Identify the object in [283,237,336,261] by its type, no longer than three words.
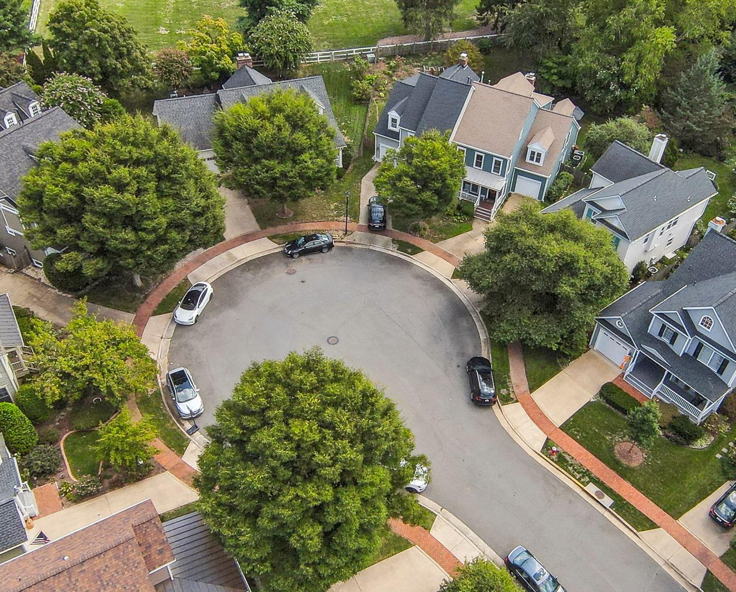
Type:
car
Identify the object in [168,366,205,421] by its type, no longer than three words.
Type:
car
